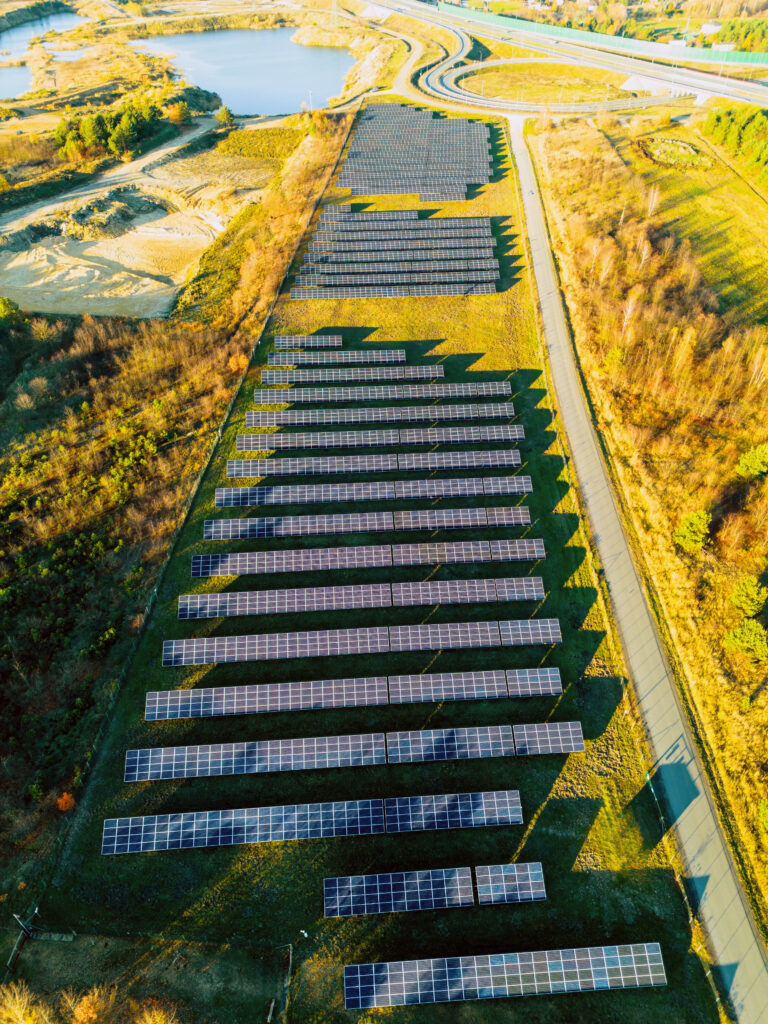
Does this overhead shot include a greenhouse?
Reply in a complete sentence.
No, the frame has no greenhouse in it.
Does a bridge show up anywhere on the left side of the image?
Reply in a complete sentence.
No, there is no bridge on the left side of the image.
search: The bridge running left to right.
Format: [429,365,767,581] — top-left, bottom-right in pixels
[619,75,716,105]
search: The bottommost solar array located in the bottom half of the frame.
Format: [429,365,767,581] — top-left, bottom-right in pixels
[345,942,666,1011]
